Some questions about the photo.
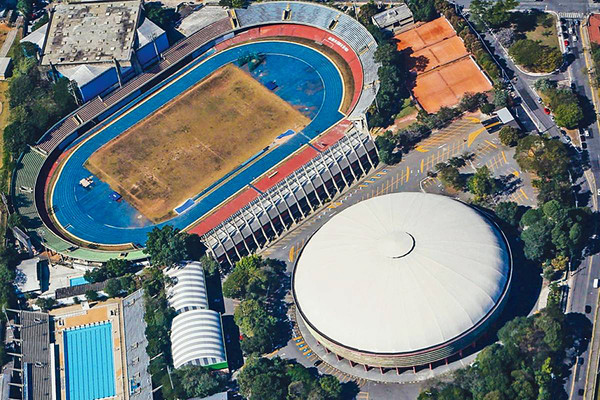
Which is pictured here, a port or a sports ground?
sports ground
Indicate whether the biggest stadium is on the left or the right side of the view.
right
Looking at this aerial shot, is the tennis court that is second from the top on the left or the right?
right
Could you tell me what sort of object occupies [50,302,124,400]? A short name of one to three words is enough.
swimming pool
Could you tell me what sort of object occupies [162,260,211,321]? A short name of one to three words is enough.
building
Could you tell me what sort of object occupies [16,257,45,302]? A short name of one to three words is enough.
building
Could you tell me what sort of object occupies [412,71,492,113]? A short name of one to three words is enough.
tennis court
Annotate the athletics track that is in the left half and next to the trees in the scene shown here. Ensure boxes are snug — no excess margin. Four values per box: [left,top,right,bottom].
[35,26,368,248]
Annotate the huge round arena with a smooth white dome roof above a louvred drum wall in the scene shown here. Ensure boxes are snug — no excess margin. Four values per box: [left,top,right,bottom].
[288,193,524,381]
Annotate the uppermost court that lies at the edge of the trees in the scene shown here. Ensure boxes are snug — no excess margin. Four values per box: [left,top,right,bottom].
[394,17,455,53]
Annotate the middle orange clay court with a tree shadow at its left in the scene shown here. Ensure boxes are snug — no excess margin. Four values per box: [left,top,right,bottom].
[408,35,468,74]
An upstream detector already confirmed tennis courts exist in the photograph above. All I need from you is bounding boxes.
[412,56,480,97]
[408,35,468,74]
[394,17,455,53]
[412,71,492,113]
